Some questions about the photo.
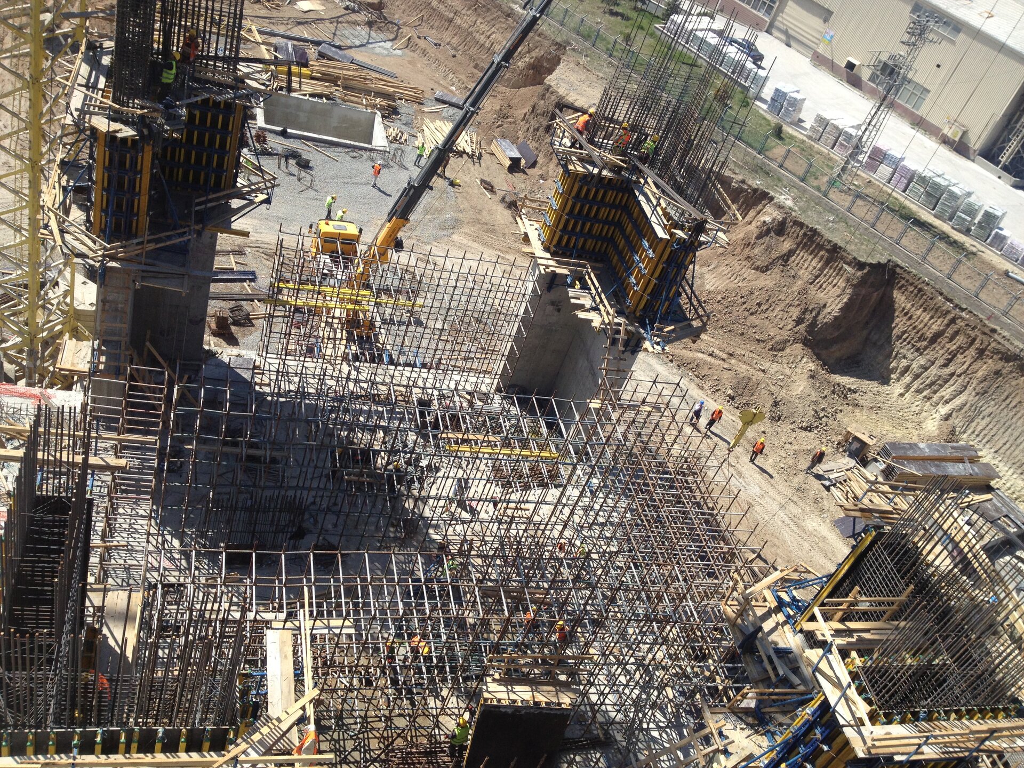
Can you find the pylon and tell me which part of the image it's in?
top right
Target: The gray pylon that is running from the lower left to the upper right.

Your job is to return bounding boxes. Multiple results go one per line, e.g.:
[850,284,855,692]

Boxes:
[824,0,955,183]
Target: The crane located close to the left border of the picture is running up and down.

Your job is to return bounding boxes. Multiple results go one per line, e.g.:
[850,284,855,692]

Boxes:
[0,0,91,372]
